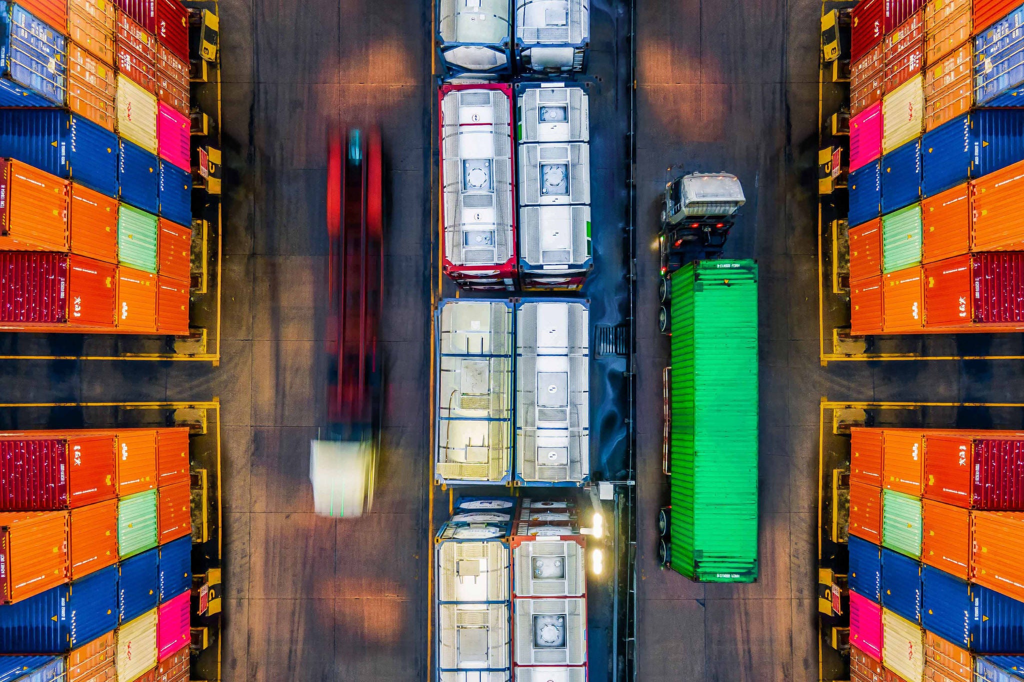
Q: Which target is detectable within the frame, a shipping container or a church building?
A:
shipping container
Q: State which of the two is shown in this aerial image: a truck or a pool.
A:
truck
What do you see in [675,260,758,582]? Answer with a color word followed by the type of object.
green shipping container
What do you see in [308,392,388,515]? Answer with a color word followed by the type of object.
white truck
